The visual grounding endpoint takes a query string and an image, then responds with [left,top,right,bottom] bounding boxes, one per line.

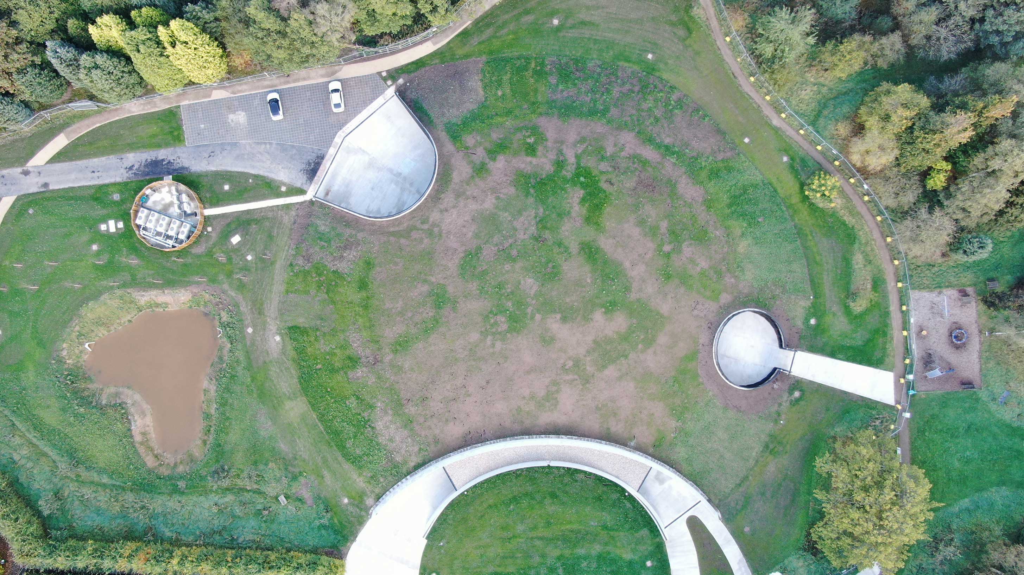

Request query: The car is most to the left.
[265,91,283,120]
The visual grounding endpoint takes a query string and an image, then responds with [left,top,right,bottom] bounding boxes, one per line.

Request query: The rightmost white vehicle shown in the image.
[329,79,344,112]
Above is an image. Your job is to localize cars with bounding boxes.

[265,91,283,120]
[329,79,344,112]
